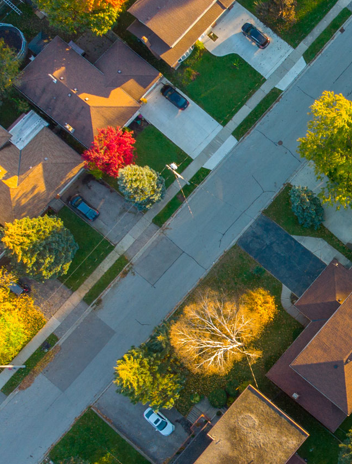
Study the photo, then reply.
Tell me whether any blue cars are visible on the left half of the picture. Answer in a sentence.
Yes, a blue car appears on the left half of the picture.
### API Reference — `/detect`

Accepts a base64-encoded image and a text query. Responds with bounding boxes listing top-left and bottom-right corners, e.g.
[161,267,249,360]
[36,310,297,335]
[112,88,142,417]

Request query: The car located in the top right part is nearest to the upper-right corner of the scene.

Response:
[241,22,274,52]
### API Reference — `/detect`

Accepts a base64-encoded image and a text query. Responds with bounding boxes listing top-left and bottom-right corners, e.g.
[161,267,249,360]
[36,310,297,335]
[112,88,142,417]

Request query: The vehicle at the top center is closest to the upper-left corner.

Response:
[158,83,192,113]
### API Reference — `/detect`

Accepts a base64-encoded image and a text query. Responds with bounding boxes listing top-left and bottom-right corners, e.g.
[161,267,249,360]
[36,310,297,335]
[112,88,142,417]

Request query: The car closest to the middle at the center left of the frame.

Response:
[67,192,103,225]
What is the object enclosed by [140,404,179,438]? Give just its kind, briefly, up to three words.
car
